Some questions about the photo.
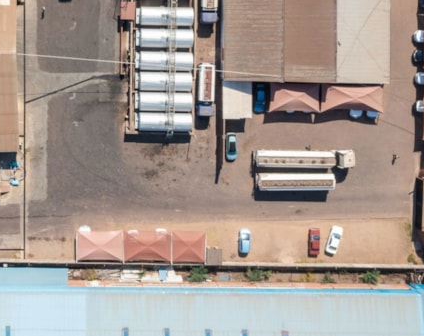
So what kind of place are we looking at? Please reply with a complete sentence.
It's an industrial area.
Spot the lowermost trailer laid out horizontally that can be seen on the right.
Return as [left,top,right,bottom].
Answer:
[257,172,340,190]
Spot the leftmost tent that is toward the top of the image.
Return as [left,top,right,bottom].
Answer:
[267,83,321,113]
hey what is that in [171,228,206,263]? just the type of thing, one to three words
tent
